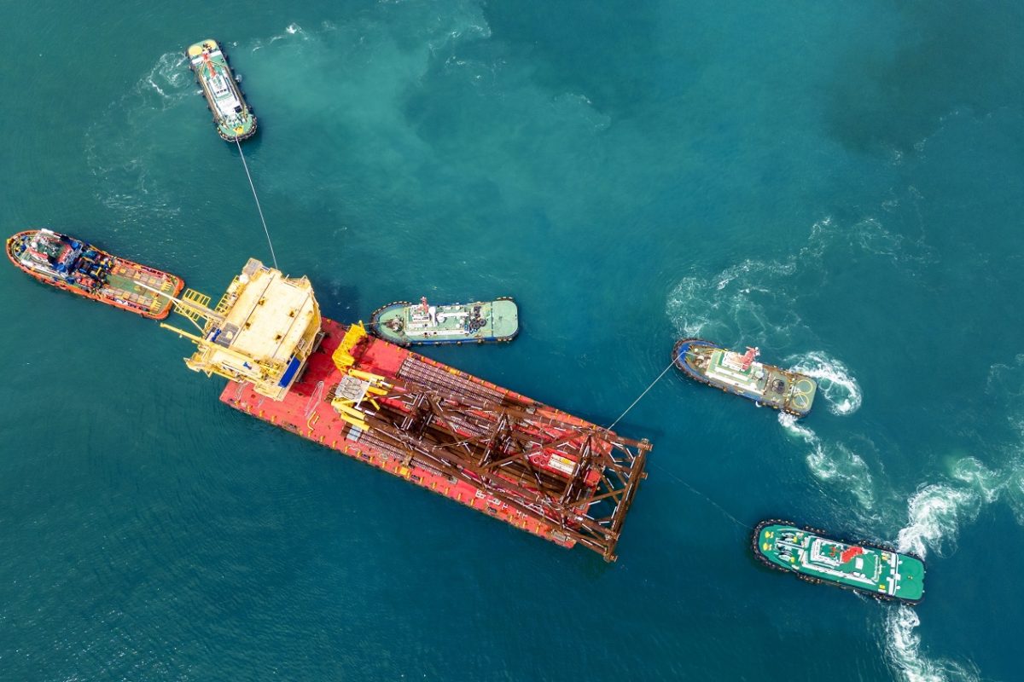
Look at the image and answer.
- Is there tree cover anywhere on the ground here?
No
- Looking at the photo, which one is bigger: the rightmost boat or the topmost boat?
the rightmost boat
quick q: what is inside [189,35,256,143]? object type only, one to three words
boat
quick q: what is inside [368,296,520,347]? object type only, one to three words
boat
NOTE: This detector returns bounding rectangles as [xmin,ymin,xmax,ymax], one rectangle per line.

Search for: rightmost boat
[750,520,926,606]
